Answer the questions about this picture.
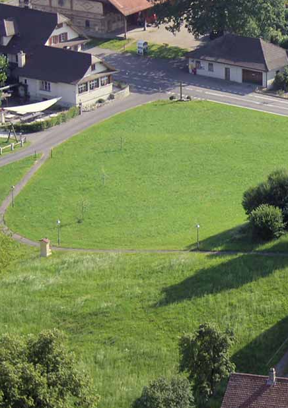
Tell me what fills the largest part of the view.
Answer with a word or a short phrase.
grass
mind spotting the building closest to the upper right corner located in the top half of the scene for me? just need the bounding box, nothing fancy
[184,31,288,87]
